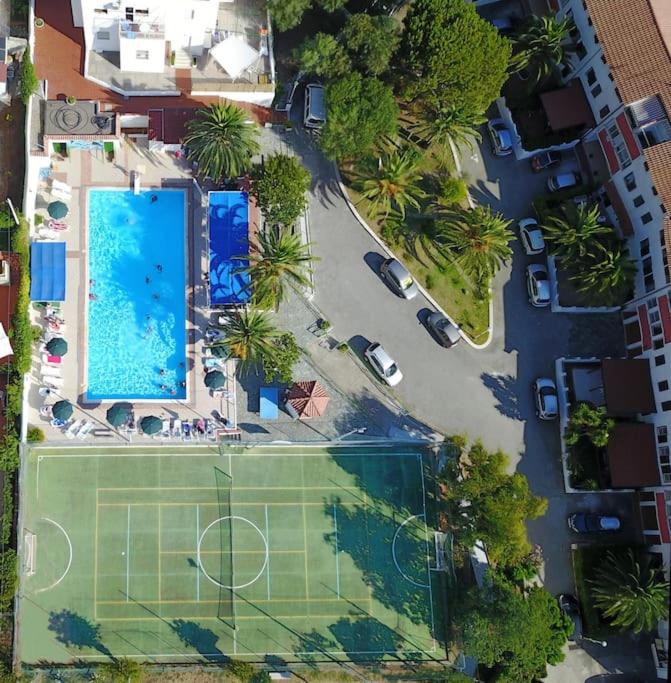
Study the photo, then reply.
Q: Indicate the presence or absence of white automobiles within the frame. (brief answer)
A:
Yes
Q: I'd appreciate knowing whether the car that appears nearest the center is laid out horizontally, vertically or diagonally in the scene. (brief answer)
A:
diagonally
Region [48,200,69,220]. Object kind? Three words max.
umbrella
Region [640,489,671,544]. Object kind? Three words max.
house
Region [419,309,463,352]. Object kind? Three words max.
car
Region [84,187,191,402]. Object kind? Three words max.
swimming pool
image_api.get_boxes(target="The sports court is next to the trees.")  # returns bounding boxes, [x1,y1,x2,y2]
[21,443,447,662]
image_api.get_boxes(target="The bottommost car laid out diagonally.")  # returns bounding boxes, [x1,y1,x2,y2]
[363,341,404,388]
